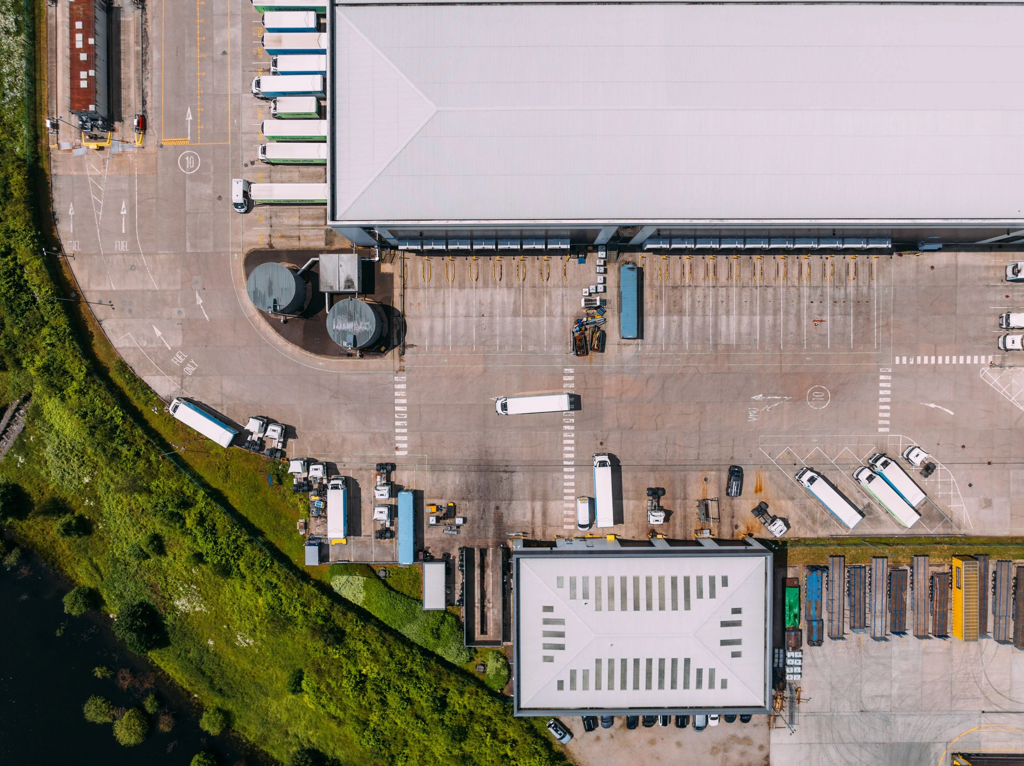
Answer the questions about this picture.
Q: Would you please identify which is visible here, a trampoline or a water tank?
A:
water tank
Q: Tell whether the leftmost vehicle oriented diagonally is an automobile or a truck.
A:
truck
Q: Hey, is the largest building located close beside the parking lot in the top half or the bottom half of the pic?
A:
bottom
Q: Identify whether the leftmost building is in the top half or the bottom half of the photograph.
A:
top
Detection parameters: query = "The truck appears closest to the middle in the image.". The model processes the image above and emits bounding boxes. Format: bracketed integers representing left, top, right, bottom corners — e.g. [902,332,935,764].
[494,394,570,416]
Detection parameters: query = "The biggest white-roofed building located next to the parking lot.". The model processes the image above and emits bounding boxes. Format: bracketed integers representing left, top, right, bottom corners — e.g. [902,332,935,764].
[508,539,773,716]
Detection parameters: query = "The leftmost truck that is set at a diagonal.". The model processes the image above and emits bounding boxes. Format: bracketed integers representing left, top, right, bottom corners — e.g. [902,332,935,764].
[167,395,243,448]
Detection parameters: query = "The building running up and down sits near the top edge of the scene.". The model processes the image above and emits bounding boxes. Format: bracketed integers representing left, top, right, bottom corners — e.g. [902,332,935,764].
[65,0,112,120]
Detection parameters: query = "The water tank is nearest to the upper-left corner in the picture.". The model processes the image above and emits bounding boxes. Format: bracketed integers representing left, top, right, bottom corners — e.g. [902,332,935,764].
[246,262,311,326]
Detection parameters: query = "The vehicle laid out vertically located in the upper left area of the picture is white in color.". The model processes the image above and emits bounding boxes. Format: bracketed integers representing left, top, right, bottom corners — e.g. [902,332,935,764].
[231,176,248,215]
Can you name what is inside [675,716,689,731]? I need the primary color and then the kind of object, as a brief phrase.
black car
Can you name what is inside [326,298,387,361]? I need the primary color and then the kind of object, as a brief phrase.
gray water tank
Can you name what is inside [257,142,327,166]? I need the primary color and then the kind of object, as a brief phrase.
white truck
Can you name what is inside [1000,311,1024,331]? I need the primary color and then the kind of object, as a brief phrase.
white vehicle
